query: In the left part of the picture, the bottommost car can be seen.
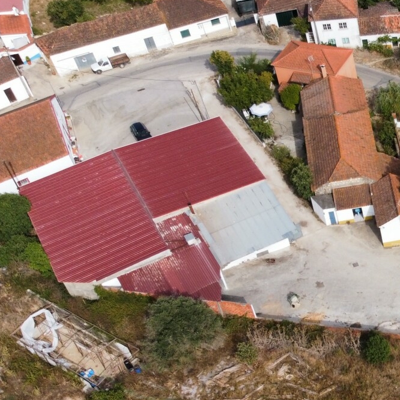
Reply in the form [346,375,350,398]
[131,116,152,139]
